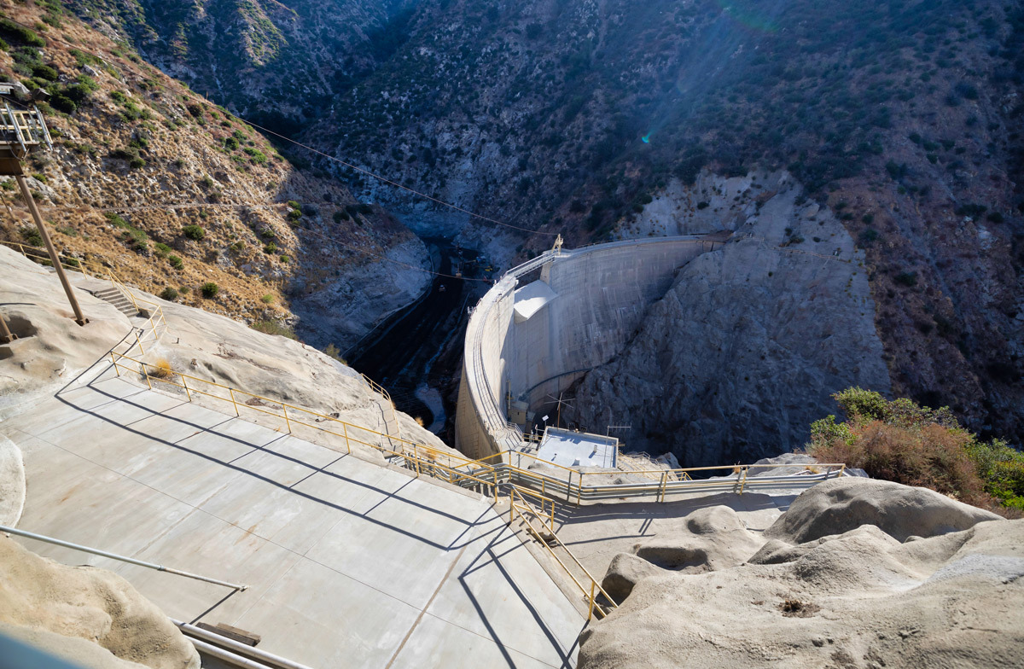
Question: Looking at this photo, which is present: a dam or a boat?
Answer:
dam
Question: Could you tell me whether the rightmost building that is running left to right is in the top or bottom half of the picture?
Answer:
bottom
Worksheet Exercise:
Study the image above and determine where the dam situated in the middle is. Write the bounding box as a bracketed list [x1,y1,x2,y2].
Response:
[459,233,738,463]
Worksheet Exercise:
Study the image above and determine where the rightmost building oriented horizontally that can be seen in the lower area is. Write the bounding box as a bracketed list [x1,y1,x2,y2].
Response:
[536,425,621,466]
